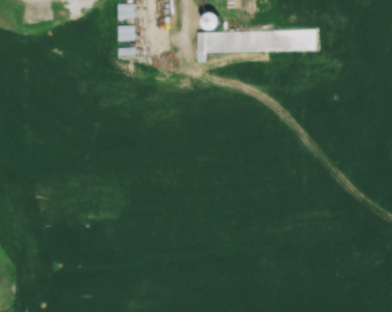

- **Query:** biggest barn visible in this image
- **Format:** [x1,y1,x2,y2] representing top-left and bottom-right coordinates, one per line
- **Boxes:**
[204,29,318,54]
